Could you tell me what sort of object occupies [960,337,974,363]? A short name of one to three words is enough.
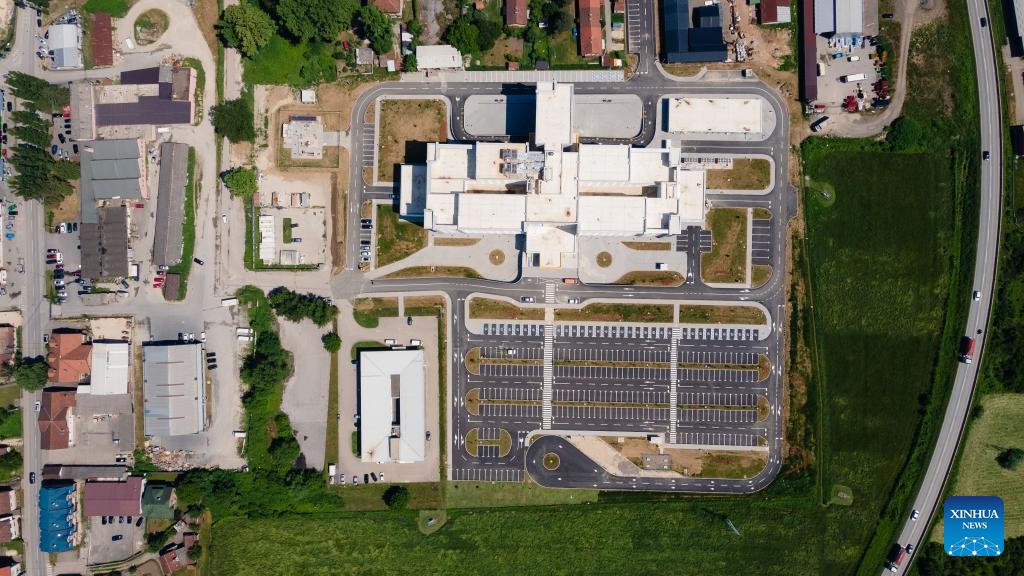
vehicle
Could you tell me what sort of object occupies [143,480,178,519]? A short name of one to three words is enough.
house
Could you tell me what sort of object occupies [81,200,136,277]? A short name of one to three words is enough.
building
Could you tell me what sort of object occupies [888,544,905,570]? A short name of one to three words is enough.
vehicle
